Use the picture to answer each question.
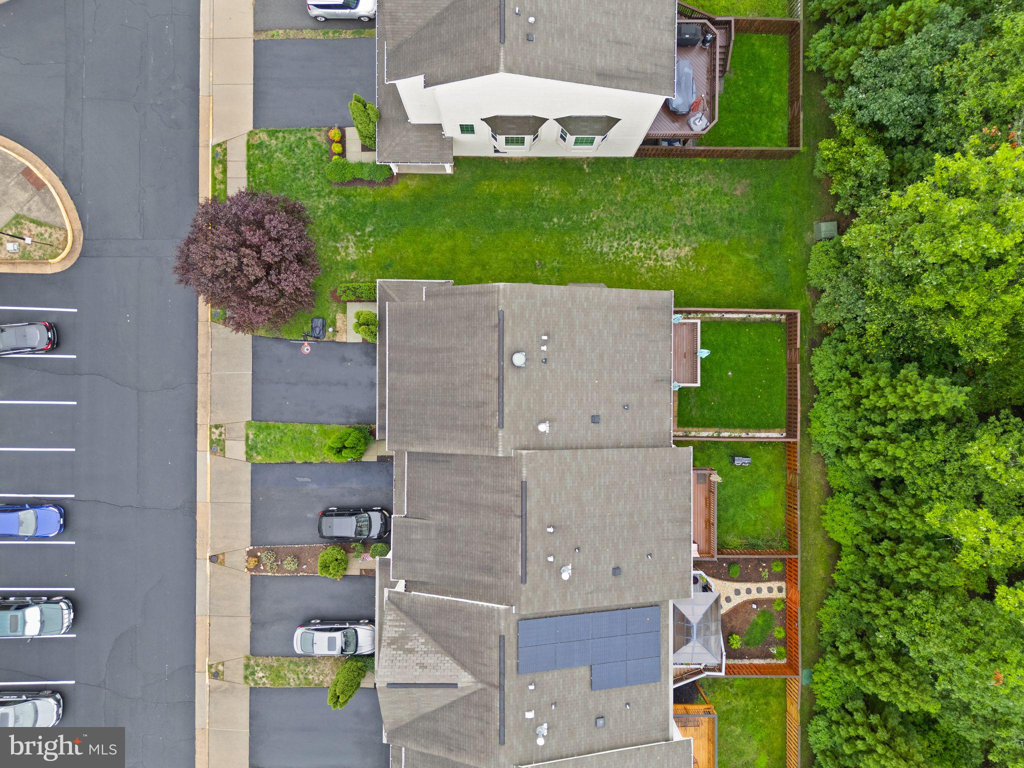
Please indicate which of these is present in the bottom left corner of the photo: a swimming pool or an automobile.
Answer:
automobile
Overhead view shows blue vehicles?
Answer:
Yes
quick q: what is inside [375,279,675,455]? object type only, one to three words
house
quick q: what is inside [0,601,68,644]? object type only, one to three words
car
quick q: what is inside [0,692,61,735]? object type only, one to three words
car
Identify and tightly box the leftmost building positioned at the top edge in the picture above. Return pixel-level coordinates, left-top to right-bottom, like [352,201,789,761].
[375,0,677,174]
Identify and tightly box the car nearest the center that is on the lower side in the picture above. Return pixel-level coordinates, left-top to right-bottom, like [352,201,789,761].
[311,507,390,547]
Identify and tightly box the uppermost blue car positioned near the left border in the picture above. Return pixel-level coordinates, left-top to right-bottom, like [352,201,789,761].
[0,505,60,543]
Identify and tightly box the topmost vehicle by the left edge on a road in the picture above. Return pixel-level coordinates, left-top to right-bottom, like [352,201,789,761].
[0,321,57,355]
